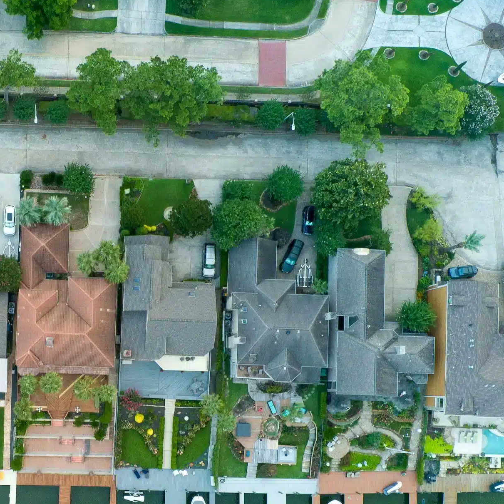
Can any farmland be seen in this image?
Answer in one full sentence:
No, there's no farmland in this view.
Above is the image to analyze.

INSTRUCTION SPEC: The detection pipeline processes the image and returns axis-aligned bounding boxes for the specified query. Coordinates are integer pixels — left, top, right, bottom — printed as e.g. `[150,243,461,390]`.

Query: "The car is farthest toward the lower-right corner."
[447,264,479,279]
